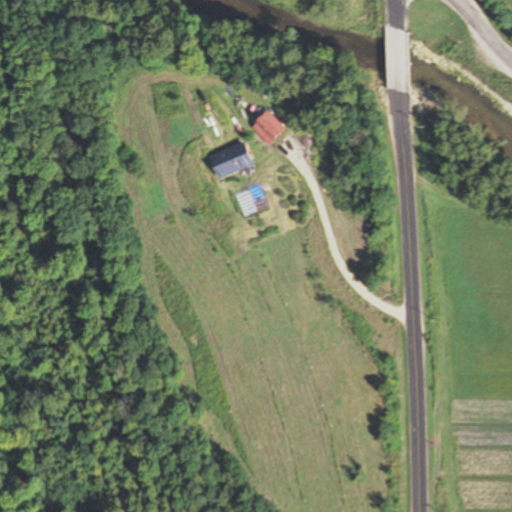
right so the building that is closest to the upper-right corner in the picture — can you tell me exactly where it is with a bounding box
[252,110,285,143]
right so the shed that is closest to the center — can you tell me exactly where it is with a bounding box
[236,184,269,218]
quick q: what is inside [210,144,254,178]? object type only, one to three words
house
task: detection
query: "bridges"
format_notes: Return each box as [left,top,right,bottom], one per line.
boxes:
[385,24,412,94]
